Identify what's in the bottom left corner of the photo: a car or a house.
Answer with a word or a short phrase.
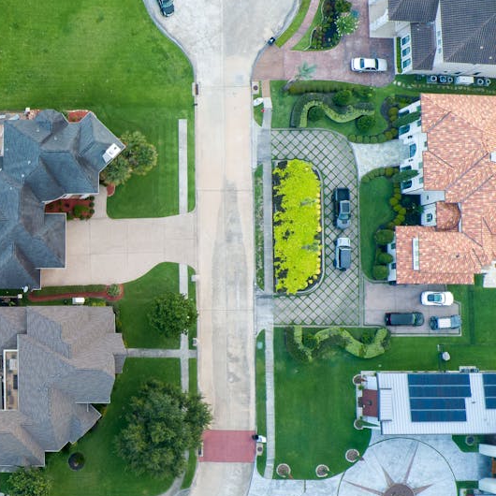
house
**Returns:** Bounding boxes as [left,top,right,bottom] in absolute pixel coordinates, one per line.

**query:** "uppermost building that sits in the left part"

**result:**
[0,109,126,290]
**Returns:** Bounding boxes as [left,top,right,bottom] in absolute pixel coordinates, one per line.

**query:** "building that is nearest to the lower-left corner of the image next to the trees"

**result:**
[0,305,126,467]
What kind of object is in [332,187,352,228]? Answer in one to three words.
vehicle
